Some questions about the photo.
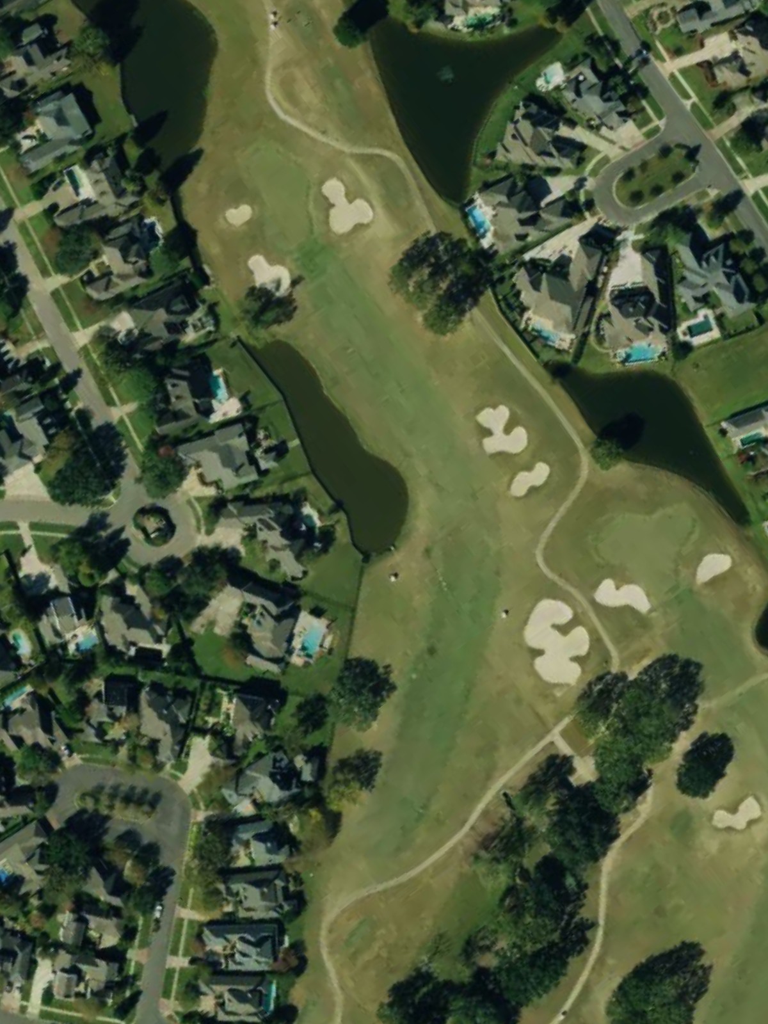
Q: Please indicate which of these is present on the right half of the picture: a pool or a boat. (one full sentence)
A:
You can see a pool on the right half of the picture.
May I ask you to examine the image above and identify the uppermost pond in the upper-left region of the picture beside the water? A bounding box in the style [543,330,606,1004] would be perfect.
[70,0,217,165]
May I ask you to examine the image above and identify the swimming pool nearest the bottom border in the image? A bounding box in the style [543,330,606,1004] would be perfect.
[262,979,276,1014]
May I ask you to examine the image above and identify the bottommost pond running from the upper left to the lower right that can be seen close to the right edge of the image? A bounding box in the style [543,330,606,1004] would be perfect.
[556,369,748,523]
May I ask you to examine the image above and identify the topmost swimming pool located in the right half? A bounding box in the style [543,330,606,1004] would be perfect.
[451,9,502,31]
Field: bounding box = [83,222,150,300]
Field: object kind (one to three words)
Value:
house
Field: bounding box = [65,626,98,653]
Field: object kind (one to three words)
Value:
swimming pool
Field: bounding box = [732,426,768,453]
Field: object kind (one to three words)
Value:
swimming pool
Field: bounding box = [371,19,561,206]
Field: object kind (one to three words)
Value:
pond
